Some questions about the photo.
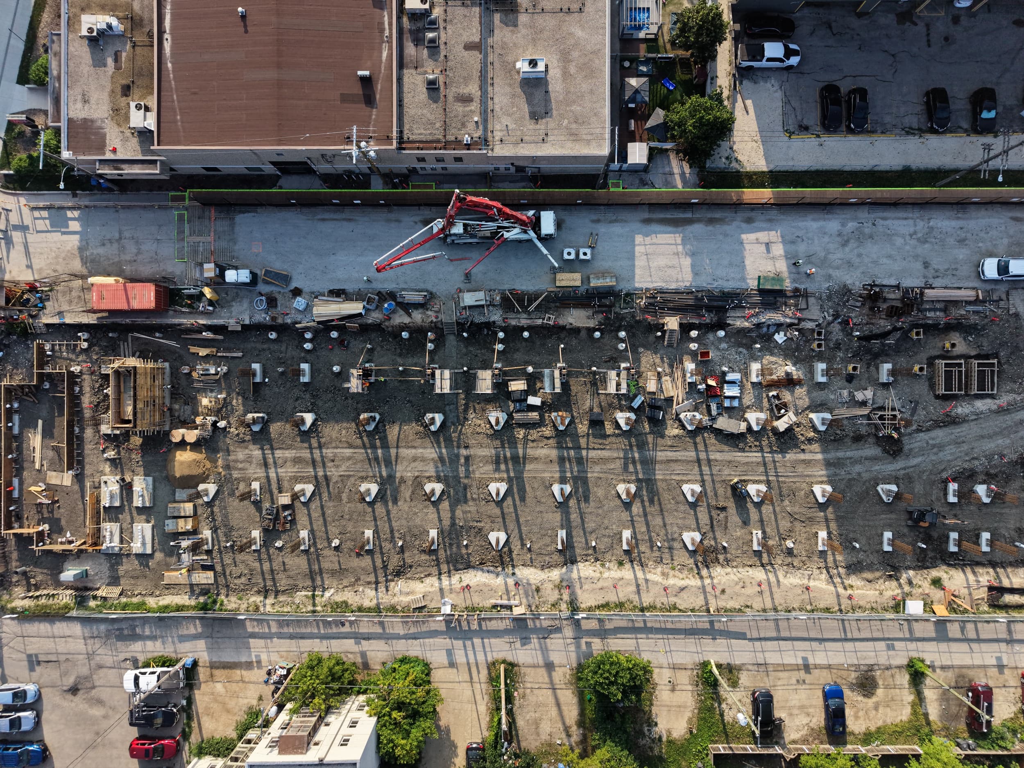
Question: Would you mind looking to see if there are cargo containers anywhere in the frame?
Yes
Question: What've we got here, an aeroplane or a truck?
truck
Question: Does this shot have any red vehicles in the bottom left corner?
Yes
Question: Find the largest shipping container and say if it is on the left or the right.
left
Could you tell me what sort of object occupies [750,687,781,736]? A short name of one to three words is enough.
car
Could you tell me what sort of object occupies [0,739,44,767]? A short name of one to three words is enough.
truck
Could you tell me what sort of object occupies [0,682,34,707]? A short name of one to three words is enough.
car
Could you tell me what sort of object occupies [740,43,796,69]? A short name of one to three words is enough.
truck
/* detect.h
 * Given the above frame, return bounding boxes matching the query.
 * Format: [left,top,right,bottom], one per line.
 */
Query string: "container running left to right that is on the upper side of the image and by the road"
[92,283,168,312]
